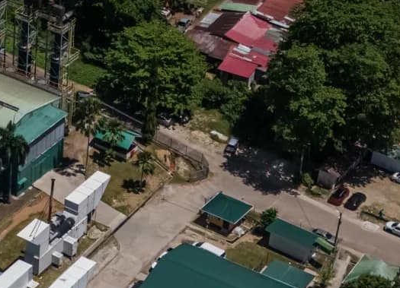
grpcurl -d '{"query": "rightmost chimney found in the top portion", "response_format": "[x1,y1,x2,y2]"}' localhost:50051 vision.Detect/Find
[49,6,87,90]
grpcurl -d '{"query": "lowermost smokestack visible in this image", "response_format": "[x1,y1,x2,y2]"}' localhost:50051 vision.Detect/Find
[40,177,60,224]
